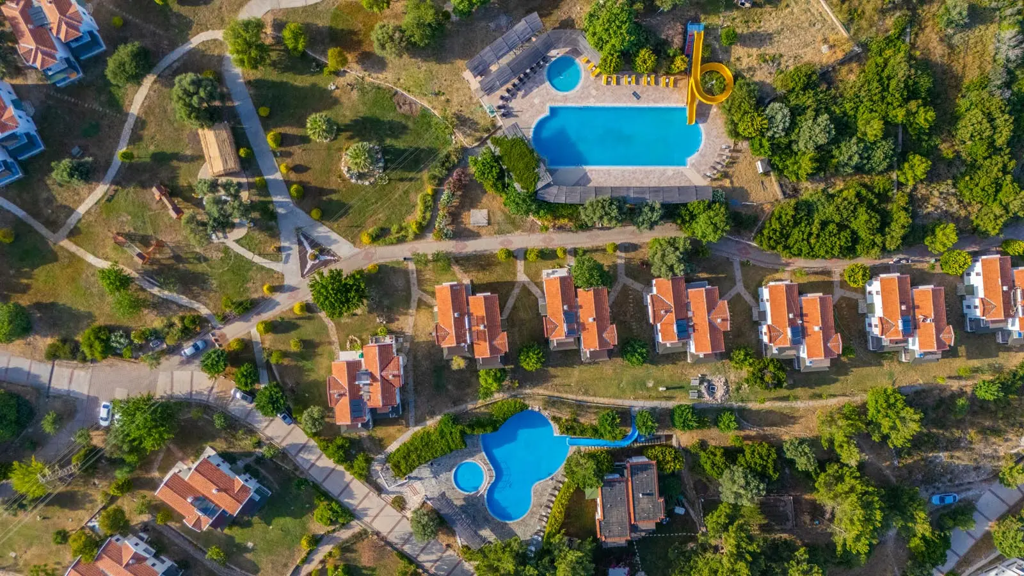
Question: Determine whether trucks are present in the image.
No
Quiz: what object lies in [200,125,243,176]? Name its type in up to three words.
building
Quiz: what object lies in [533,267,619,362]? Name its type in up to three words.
house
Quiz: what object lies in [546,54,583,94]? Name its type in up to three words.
swimming pool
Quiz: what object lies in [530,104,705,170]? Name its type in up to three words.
swimming pool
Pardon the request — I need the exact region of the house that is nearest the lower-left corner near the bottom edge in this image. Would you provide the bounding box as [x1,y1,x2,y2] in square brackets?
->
[62,517,188,576]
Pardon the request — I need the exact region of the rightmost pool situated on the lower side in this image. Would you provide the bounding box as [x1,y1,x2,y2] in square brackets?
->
[478,408,572,523]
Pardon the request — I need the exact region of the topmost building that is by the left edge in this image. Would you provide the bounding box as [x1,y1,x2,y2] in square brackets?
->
[3,0,109,92]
